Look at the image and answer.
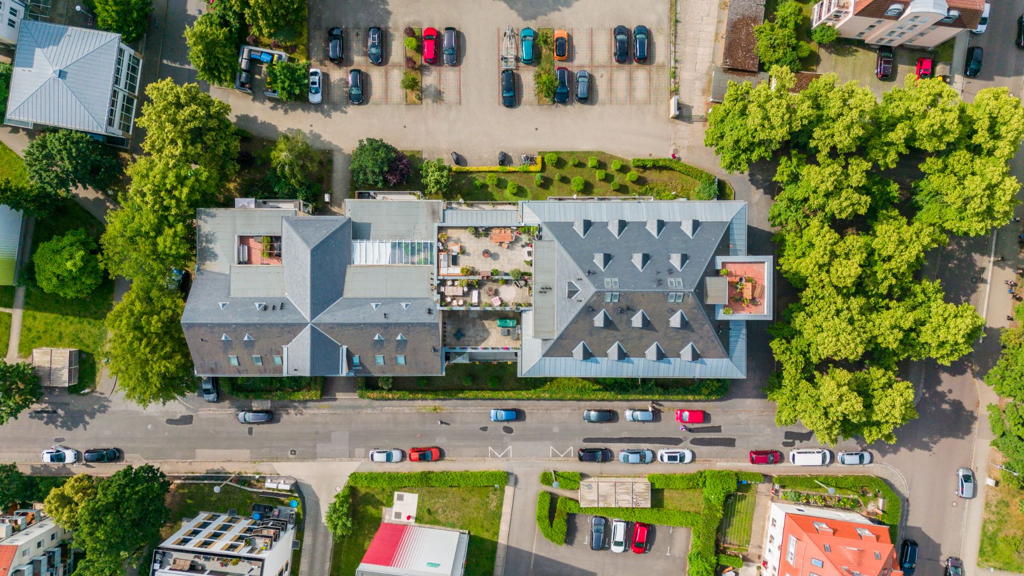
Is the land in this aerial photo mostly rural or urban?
urban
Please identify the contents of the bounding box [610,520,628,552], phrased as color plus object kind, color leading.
white car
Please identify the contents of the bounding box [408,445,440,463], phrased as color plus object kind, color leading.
red car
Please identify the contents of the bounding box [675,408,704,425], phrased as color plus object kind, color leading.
red car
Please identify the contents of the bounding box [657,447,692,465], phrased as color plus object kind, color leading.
white car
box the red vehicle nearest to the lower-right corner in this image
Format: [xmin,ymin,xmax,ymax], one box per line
[748,449,780,466]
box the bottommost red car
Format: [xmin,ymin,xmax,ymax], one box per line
[632,523,650,553]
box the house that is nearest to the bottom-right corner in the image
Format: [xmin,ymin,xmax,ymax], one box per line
[764,504,891,576]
